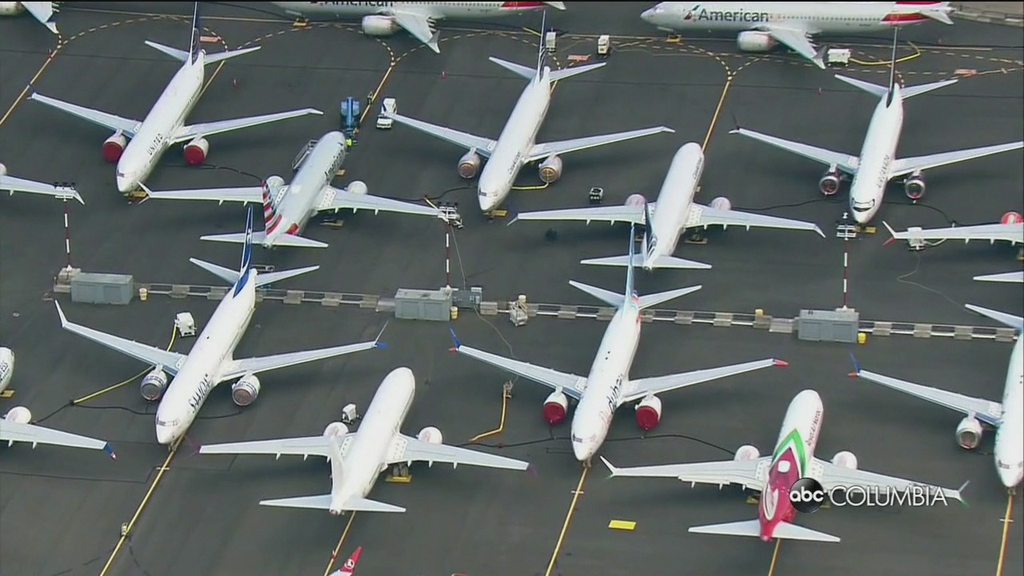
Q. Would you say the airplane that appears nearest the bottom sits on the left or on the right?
left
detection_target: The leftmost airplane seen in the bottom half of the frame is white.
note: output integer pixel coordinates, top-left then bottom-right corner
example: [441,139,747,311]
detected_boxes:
[0,349,117,458]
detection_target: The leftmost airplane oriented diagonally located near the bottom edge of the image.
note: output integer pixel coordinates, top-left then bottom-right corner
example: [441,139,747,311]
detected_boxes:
[325,548,363,576]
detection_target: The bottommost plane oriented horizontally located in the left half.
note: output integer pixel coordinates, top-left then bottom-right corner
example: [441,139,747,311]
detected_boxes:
[184,370,539,515]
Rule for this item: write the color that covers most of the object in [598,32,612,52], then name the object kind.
white vehicle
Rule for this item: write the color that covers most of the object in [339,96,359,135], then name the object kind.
blue vehicle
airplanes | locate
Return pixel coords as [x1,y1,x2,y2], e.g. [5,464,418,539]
[640,0,955,68]
[0,170,86,211]
[0,349,117,458]
[269,0,570,51]
[184,370,539,515]
[731,23,1024,227]
[325,548,363,576]
[136,135,448,248]
[853,301,1024,492]
[886,214,1024,284]
[58,204,388,442]
[505,154,825,269]
[601,394,966,543]
[30,0,322,192]
[448,223,786,464]
[377,8,676,211]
